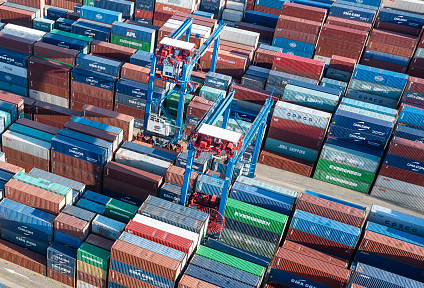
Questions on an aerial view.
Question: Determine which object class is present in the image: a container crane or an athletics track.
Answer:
container crane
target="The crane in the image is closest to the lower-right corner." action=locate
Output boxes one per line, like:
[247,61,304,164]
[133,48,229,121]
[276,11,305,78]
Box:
[180,77,281,244]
